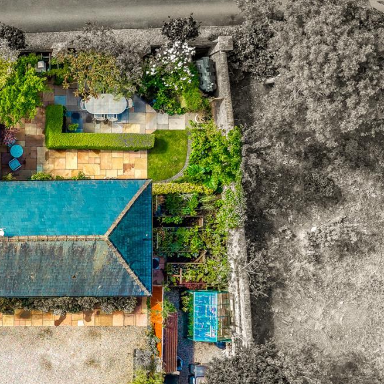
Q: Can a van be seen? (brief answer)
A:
No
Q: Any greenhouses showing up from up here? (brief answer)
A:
Yes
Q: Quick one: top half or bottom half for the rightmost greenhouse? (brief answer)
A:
bottom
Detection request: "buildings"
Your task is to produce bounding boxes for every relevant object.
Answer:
[182,289,230,342]
[158,311,182,374]
[0,178,154,297]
